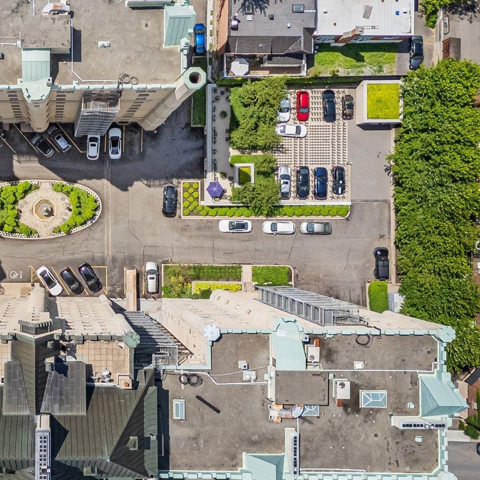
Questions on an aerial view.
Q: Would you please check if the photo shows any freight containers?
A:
No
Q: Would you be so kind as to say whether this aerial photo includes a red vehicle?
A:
Yes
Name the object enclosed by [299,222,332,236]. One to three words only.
car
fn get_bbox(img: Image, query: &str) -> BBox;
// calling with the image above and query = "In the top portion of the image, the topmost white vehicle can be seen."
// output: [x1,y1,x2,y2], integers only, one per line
[276,92,292,121]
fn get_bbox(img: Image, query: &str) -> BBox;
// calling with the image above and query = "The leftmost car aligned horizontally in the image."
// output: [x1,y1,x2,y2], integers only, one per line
[218,219,251,234]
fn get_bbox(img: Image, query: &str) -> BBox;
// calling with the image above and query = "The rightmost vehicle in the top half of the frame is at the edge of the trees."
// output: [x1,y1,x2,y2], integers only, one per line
[407,38,425,71]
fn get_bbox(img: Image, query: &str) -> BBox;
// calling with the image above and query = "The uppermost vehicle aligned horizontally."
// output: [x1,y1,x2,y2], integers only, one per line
[274,122,307,138]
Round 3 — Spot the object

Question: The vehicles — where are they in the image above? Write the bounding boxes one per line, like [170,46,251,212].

[86,133,101,162]
[299,222,332,236]
[218,219,251,234]
[46,121,72,153]
[313,167,329,199]
[276,167,292,199]
[373,248,389,280]
[58,266,84,298]
[295,167,311,199]
[107,127,122,160]
[144,261,159,294]
[341,95,354,120]
[274,122,307,138]
[35,264,64,298]
[407,38,425,71]
[294,91,311,122]
[331,166,345,195]
[261,221,295,235]
[29,131,55,161]
[276,92,292,121]
[76,262,102,294]
[162,186,178,218]
[321,91,336,122]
